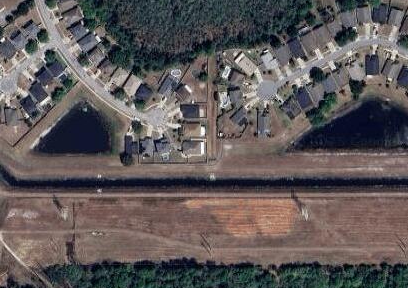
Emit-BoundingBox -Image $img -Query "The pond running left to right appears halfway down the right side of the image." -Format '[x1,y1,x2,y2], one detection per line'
[289,98,408,151]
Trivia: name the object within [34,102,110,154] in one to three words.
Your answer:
pond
